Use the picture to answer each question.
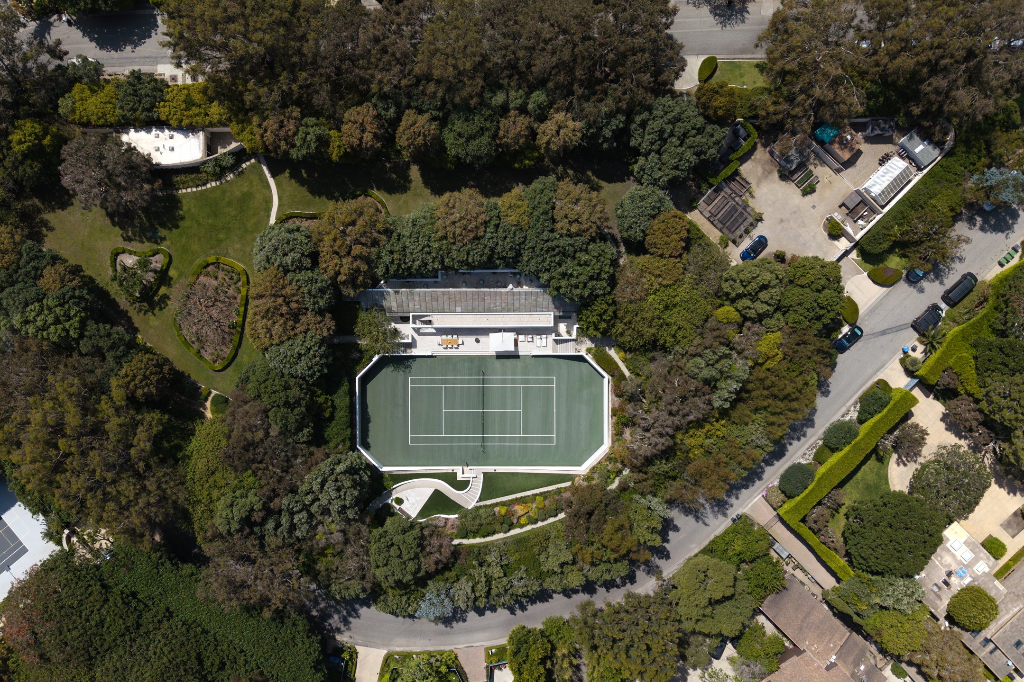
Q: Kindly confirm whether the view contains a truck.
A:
No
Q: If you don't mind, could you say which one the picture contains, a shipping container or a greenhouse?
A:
greenhouse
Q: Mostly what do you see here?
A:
trees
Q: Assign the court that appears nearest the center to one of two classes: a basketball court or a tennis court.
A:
tennis court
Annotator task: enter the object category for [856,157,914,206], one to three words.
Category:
greenhouse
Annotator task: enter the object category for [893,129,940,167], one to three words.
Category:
shed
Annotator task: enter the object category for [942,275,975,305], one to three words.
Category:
car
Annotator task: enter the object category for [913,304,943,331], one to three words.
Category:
car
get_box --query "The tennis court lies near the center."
[361,355,603,467]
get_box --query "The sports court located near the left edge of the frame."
[0,478,64,603]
